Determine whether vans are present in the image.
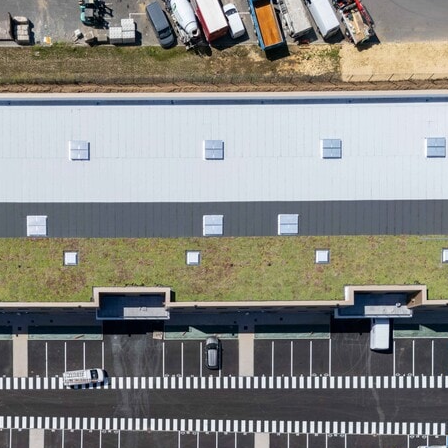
Yes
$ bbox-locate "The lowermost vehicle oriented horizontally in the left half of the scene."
[63,366,105,385]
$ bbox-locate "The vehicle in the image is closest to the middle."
[205,336,223,371]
